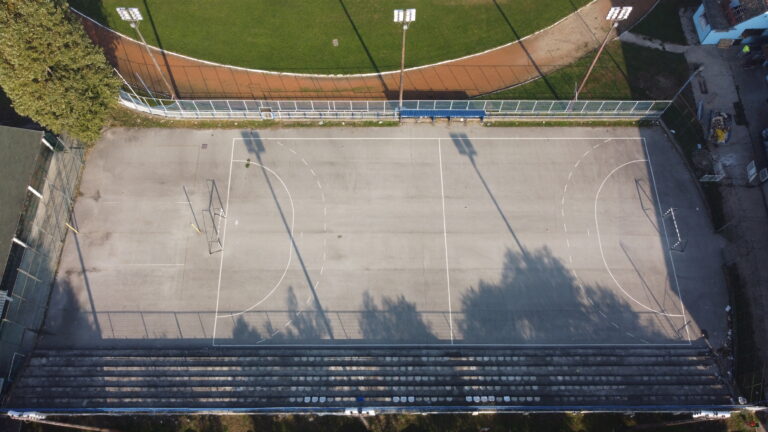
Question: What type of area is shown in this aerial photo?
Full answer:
The area seen from above is a sports ground.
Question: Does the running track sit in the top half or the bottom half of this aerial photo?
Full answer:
The running track is in the top half of the image.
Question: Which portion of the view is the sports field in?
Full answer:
You can find the sports field in the top area of the picture.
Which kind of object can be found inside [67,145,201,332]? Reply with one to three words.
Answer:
sports court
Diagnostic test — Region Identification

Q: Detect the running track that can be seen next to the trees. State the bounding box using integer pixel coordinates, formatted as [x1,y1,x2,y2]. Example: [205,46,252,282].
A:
[1,0,662,110]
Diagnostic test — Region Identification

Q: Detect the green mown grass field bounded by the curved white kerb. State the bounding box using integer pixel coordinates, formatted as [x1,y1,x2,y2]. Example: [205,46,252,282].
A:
[67,0,597,73]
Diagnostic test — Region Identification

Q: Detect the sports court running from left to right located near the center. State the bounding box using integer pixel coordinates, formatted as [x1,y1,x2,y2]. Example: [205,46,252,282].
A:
[211,138,691,346]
